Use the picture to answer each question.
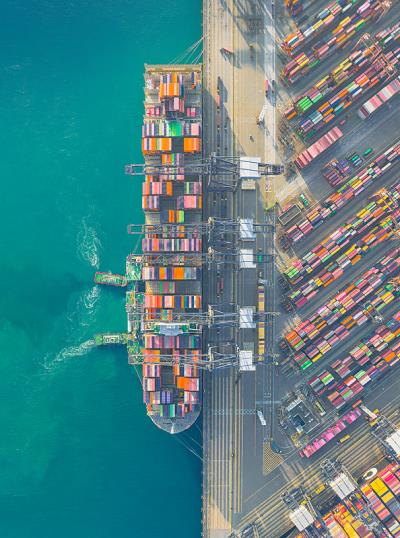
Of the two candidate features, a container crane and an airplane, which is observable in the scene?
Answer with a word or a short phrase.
container crane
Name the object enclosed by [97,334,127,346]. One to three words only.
boat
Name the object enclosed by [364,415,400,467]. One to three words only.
container crane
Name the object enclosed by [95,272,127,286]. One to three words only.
boat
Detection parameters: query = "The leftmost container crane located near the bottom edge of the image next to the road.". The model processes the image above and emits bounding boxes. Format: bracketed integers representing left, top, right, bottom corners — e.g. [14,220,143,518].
[279,481,330,538]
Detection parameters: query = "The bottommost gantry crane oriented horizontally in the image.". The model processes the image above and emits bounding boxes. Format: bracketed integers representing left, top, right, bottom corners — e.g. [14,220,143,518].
[126,337,281,372]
